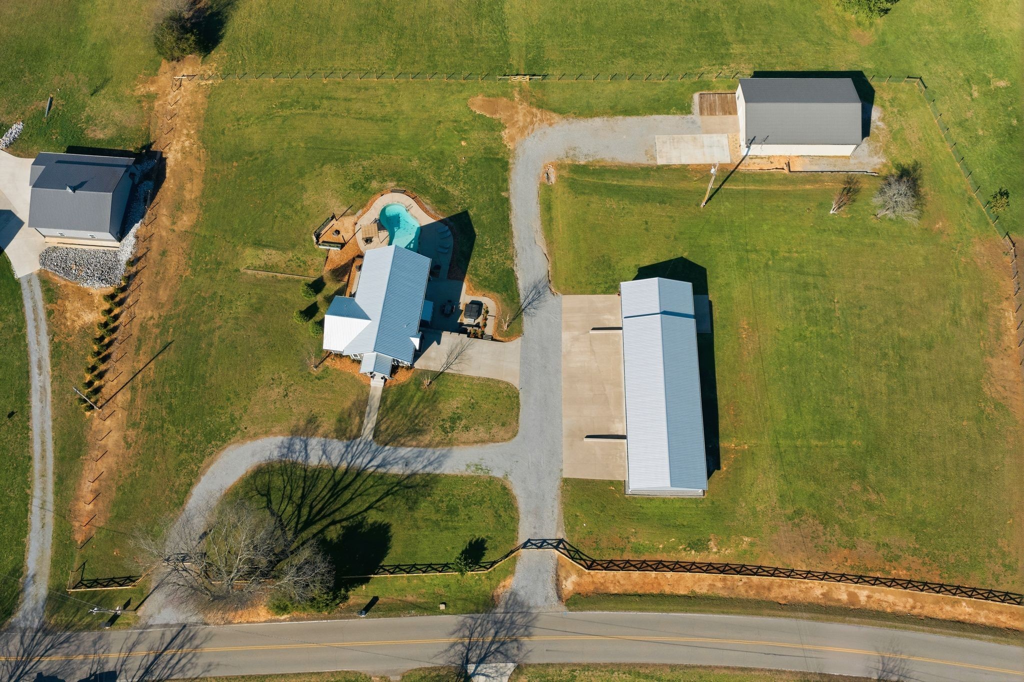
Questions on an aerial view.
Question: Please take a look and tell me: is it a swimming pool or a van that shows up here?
swimming pool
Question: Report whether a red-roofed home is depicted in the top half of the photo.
No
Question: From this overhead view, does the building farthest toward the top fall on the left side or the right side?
right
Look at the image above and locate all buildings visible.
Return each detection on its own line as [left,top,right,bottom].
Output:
[323,244,434,384]
[28,152,138,245]
[621,277,716,497]
[736,77,862,156]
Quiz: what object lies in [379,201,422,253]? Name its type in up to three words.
swimming pool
